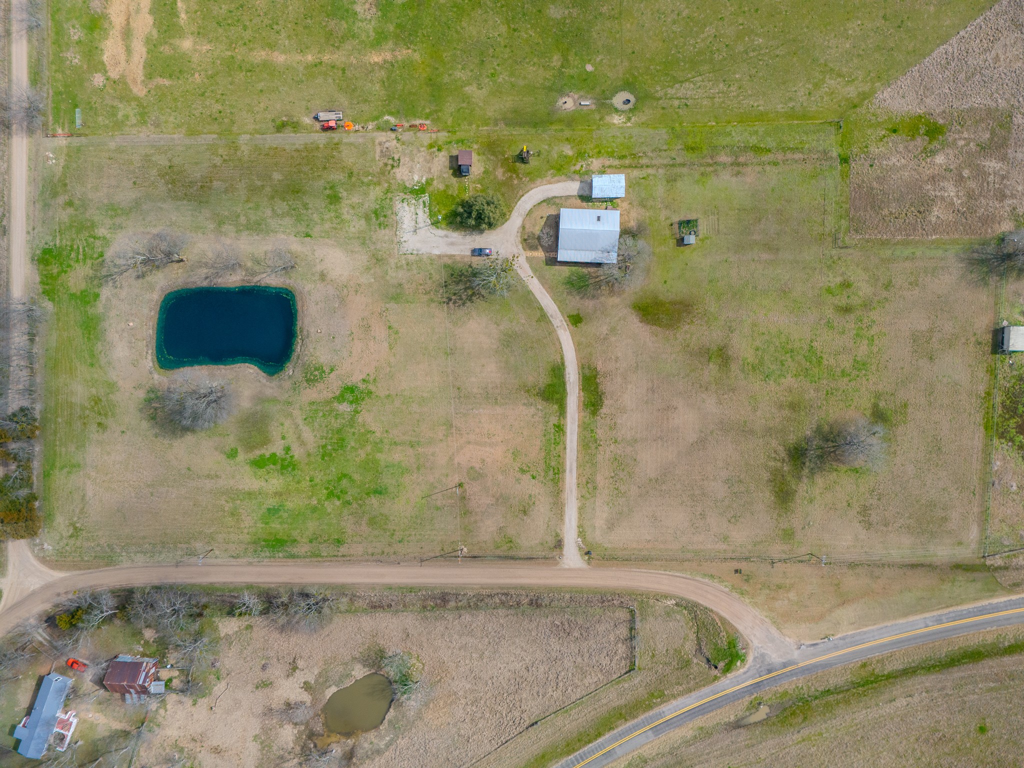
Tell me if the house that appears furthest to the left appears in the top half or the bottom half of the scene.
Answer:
bottom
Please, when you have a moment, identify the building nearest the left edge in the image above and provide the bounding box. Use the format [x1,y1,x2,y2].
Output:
[13,672,72,759]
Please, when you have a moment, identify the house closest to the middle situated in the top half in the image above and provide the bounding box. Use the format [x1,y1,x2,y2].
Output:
[557,207,620,263]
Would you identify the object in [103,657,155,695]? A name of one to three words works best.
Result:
barn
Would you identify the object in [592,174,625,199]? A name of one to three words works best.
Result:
building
